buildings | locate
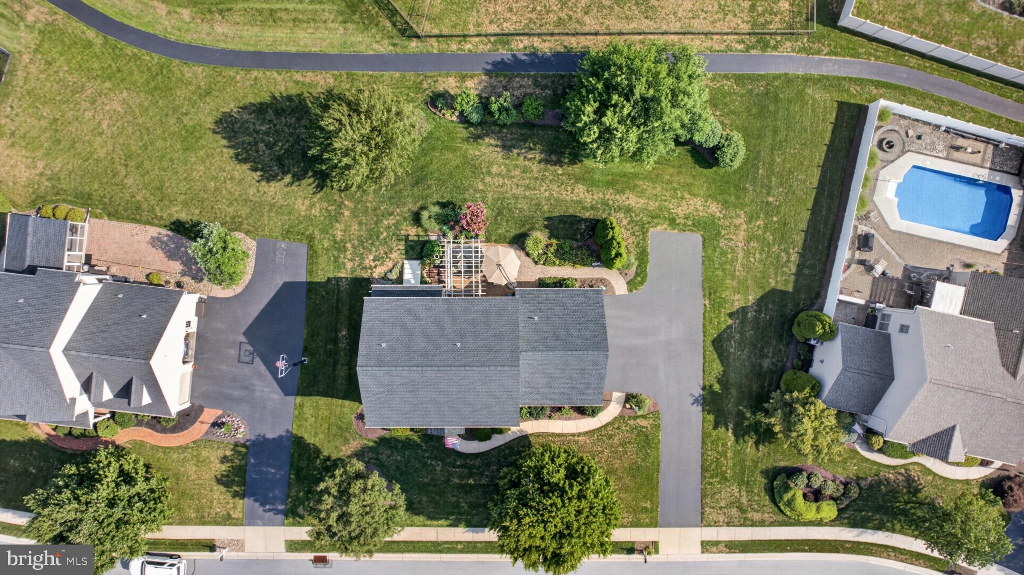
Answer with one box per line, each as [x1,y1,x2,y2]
[0,213,201,430]
[813,270,1024,466]
[357,285,609,436]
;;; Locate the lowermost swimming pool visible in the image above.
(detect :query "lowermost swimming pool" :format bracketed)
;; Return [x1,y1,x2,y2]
[886,164,1014,241]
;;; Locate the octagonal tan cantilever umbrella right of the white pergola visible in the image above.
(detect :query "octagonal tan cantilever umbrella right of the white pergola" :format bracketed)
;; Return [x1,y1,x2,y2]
[480,245,521,290]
